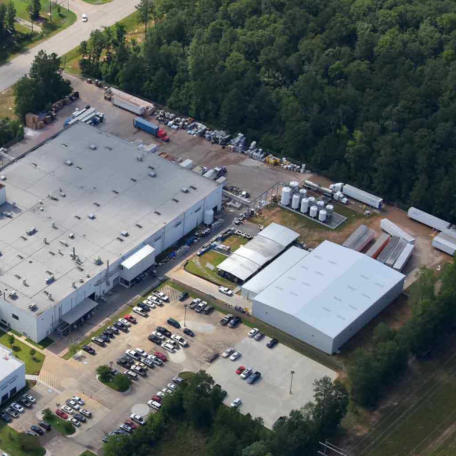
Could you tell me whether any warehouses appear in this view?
Yes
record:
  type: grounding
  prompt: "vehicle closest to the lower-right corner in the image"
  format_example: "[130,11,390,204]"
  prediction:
[271,413,288,426]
